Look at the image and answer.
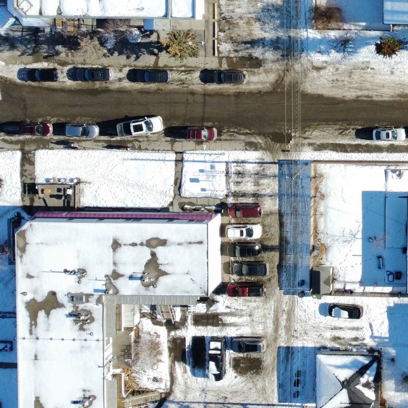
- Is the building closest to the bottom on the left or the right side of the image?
right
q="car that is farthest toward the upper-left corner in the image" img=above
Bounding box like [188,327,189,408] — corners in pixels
[27,66,65,83]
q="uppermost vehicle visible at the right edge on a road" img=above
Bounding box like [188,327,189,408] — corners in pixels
[373,127,406,141]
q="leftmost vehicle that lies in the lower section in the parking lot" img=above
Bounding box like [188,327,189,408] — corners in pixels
[206,335,226,382]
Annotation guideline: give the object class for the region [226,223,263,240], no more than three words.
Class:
car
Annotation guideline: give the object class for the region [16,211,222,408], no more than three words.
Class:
building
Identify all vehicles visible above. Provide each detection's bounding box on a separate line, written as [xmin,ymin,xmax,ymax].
[331,302,364,320]
[229,202,263,218]
[27,66,65,83]
[228,242,263,259]
[226,223,263,240]
[232,336,267,353]
[206,335,226,382]
[75,66,114,83]
[66,122,101,139]
[115,115,165,138]
[186,125,219,141]
[373,127,406,141]
[227,280,267,297]
[213,68,251,87]
[136,67,173,84]
[18,121,56,137]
